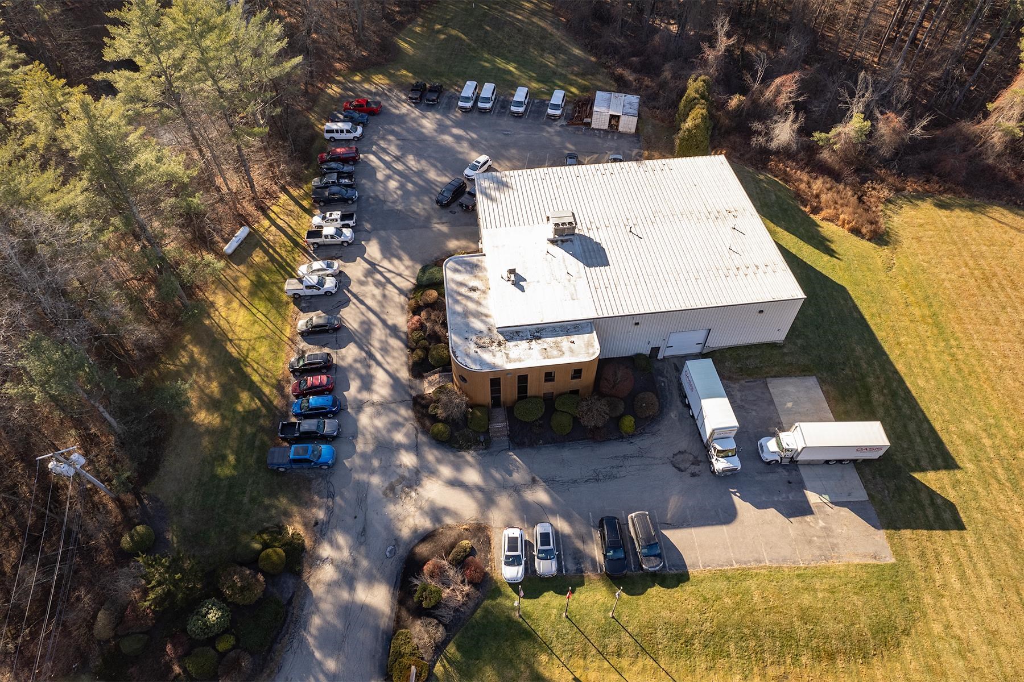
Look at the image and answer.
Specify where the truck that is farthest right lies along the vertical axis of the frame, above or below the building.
below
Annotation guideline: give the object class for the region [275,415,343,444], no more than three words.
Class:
truck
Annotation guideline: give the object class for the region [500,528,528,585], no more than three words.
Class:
car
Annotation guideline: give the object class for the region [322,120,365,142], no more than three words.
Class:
vehicle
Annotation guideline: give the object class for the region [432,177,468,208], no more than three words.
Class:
car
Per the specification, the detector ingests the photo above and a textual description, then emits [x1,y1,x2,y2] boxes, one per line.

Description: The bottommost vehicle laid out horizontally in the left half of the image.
[265,442,338,472]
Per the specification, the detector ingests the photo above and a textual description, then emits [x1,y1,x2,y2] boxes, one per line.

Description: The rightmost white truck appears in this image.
[757,421,890,464]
